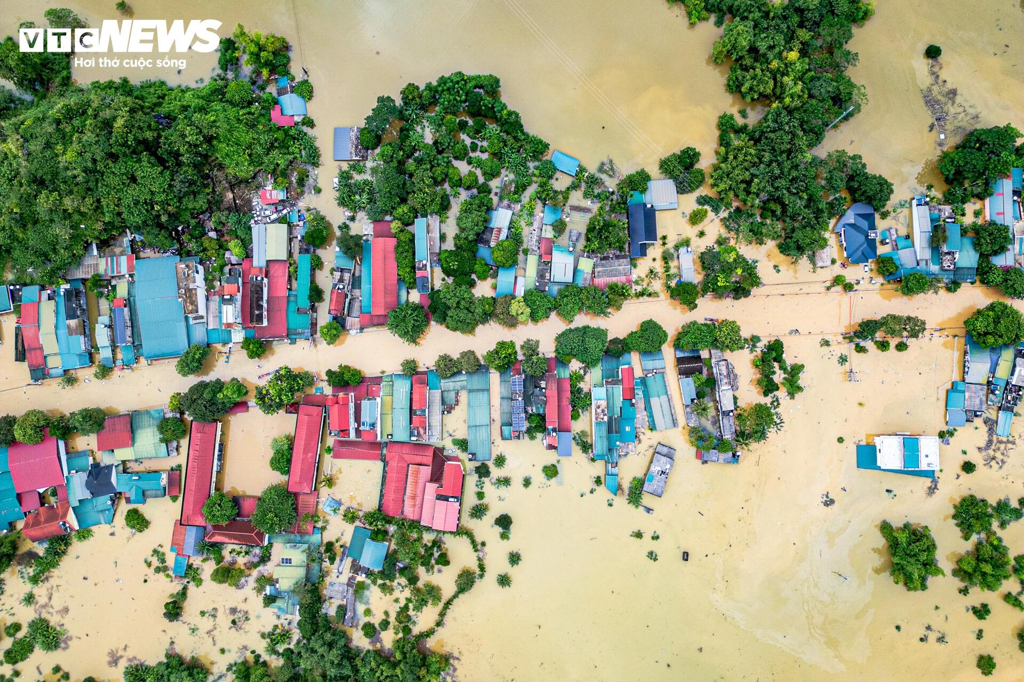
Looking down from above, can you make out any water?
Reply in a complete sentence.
Yes, there's water in this view.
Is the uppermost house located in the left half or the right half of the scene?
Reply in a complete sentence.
It is on the left.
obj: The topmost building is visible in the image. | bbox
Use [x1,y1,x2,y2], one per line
[271,76,309,128]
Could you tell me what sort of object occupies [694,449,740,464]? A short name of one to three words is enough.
shed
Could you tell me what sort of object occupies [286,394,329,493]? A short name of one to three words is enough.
building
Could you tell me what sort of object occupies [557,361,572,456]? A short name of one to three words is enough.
house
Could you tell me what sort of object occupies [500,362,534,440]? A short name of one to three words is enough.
house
